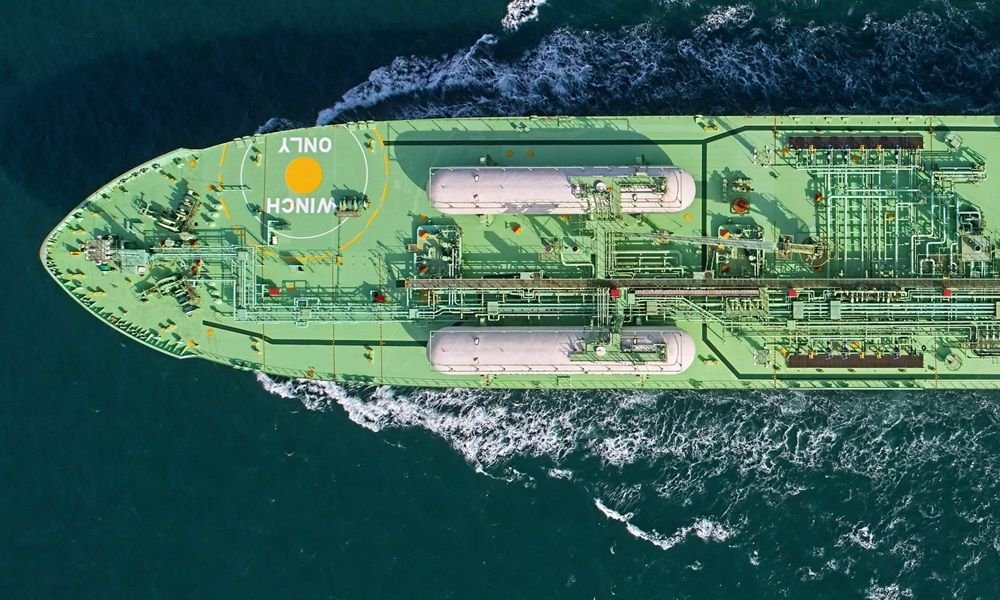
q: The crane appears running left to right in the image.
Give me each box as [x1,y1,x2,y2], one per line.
[653,233,832,272]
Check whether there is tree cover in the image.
No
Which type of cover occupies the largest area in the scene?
water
